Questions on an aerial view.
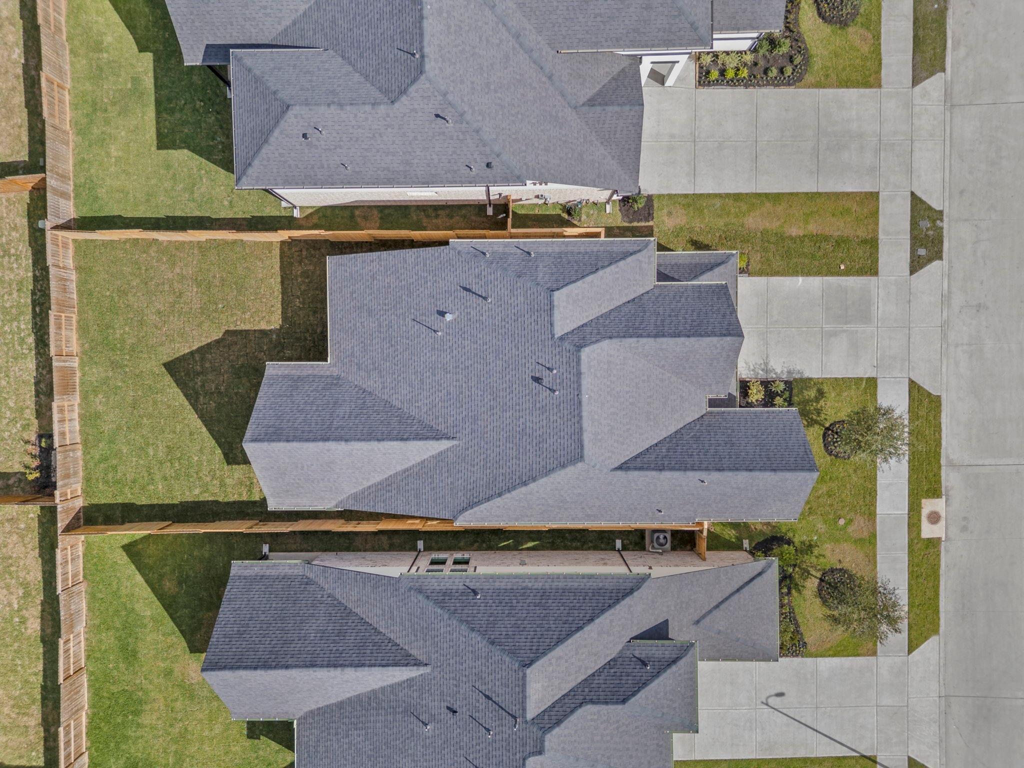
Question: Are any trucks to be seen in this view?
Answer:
No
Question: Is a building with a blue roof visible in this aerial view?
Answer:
No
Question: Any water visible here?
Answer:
No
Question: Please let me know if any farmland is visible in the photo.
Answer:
No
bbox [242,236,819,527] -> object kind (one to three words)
house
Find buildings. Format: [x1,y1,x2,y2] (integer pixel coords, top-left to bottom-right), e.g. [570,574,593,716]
[165,0,785,213]
[201,547,782,768]
[242,236,819,527]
